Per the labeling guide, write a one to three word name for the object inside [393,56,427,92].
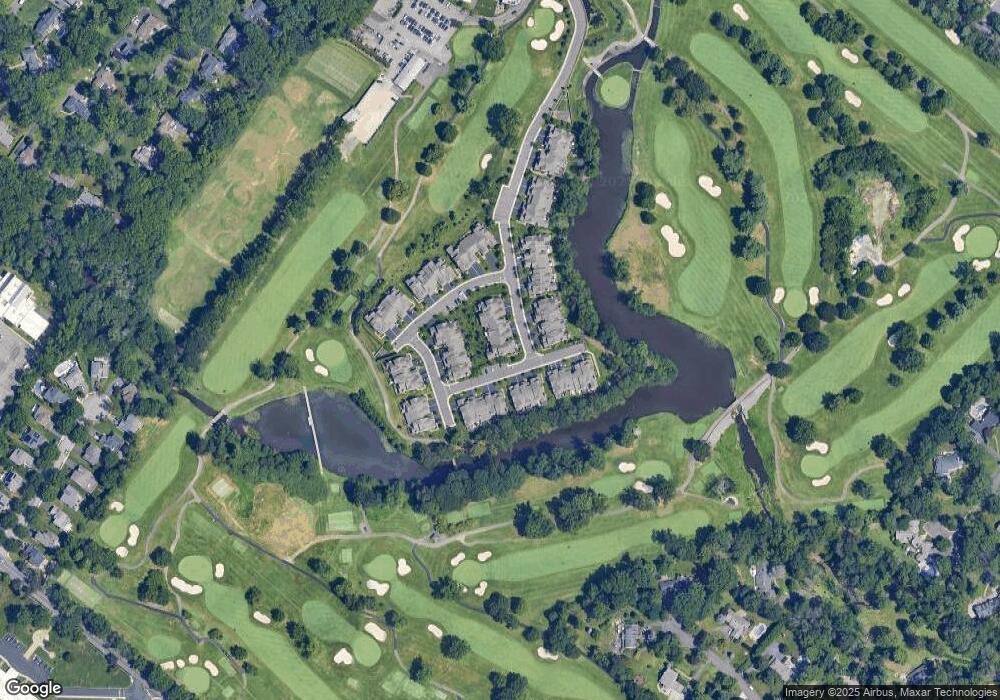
barn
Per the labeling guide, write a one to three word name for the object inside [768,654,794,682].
house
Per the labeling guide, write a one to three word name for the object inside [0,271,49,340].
building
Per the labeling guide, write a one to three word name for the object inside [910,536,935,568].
house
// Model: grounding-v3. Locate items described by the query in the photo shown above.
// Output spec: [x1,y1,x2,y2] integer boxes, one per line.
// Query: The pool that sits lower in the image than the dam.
[751,624,767,640]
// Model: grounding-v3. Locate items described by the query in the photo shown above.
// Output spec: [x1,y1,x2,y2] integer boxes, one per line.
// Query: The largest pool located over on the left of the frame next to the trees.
[54,360,73,376]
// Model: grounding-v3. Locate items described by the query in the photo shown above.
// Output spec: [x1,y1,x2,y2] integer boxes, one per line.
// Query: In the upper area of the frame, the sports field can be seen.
[304,35,386,101]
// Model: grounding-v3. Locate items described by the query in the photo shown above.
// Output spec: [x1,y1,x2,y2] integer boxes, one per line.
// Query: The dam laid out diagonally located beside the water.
[703,374,771,448]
